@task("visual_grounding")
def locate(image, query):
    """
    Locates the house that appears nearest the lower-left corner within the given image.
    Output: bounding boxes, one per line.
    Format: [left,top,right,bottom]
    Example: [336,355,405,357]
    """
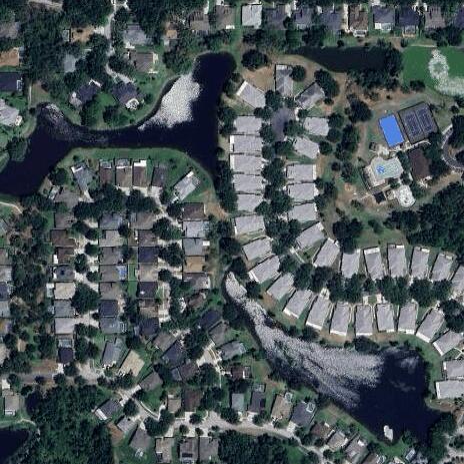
[2,392,20,414]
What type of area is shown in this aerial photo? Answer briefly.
residential area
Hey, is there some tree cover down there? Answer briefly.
Yes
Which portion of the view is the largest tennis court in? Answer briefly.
top right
